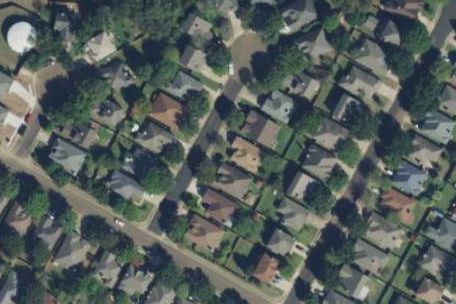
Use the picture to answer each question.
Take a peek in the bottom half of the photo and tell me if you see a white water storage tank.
No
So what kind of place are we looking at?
residential area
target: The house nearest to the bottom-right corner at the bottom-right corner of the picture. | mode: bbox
[414,274,446,304]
